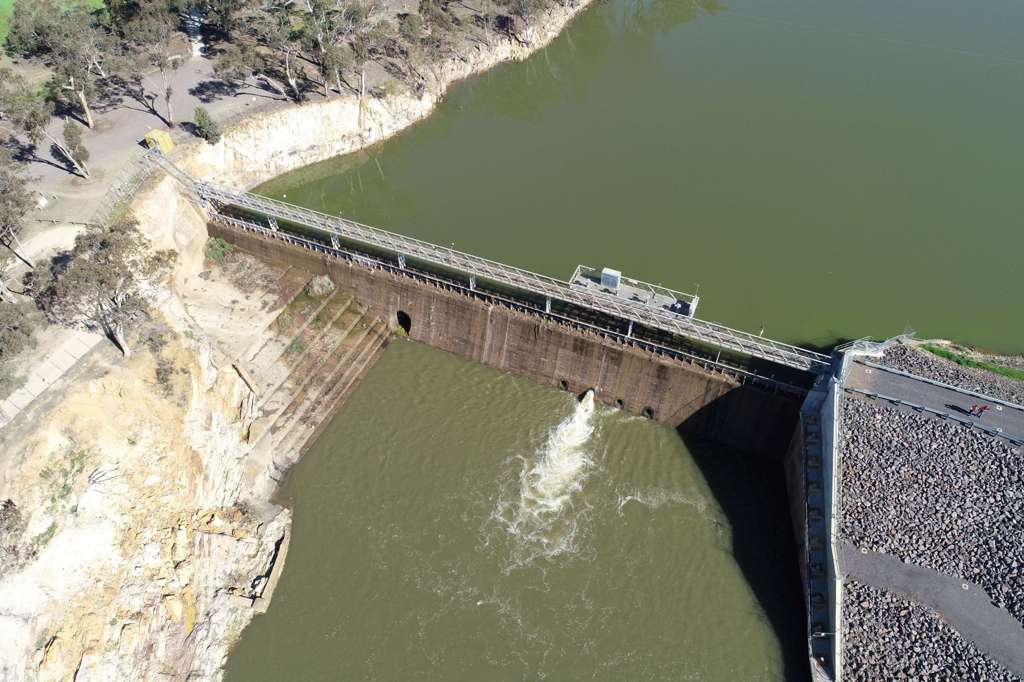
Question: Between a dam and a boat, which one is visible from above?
dam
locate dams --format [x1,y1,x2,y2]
[203,217,805,461]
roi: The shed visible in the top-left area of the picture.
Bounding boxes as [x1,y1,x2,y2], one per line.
[144,129,179,155]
